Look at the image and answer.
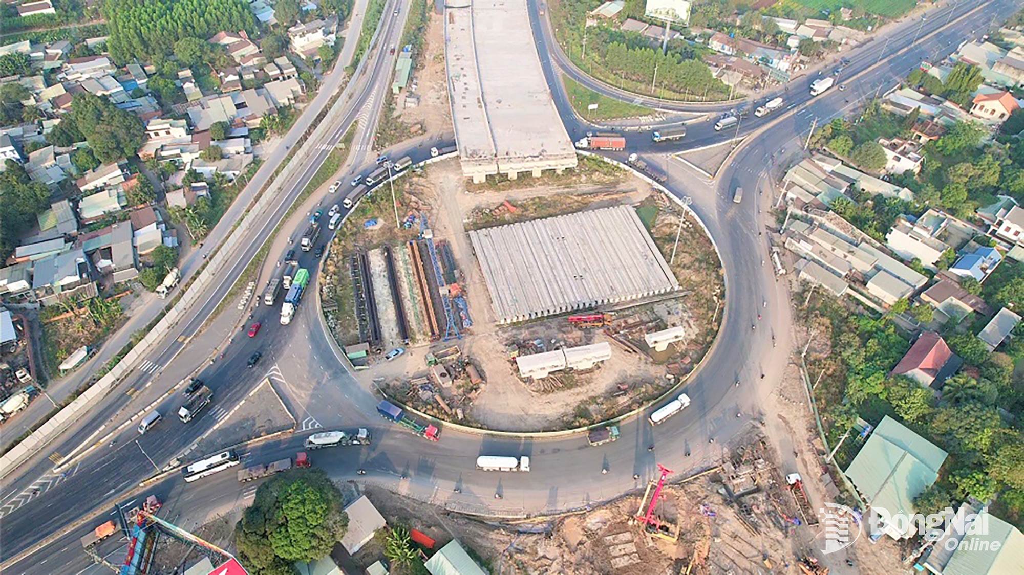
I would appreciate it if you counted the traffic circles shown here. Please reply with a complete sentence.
The picture shows just 1 traffic circle.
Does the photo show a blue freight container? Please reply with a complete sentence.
No, this view has no blue freight container in it.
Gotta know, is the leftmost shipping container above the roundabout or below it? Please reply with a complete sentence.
Looking at the photo, you'll find the leftmost shipping container below the roundabout.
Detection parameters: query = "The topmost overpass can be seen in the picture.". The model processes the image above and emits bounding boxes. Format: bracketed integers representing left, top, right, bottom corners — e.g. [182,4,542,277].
[443,0,577,182]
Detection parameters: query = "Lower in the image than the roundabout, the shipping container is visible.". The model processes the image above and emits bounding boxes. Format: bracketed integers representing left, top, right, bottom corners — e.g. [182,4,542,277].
[407,523,438,551]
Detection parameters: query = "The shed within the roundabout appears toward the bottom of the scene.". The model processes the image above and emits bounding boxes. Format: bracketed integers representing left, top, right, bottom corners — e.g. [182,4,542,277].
[344,342,371,360]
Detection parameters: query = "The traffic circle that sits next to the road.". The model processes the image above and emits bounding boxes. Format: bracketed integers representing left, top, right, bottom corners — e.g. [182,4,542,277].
[316,147,727,437]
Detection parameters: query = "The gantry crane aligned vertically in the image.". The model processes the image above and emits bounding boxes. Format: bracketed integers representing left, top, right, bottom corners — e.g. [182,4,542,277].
[419,231,461,340]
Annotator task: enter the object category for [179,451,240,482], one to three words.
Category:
bus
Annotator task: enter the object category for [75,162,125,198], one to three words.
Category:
house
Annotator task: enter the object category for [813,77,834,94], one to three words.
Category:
vehicle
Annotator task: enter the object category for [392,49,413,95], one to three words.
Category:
shed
